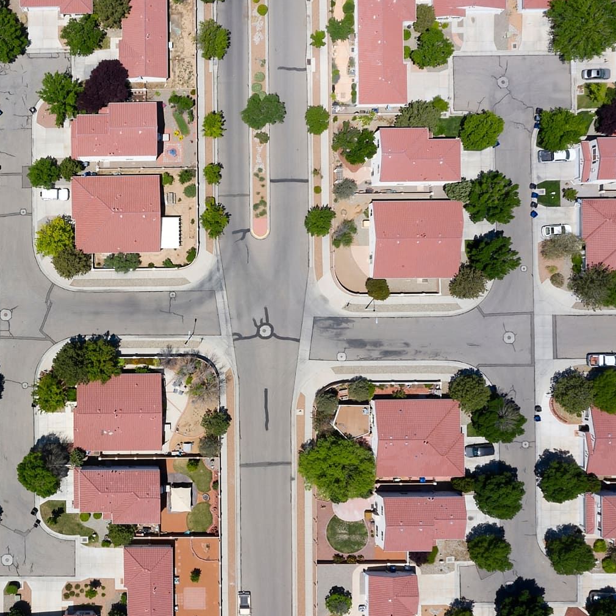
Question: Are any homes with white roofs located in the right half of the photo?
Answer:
No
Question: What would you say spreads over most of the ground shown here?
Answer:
paved ground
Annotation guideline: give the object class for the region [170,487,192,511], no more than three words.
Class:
gazebo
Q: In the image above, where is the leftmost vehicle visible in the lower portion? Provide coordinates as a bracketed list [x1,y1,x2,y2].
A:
[238,590,253,616]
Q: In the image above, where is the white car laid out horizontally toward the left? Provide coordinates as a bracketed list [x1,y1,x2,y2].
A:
[41,188,69,201]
